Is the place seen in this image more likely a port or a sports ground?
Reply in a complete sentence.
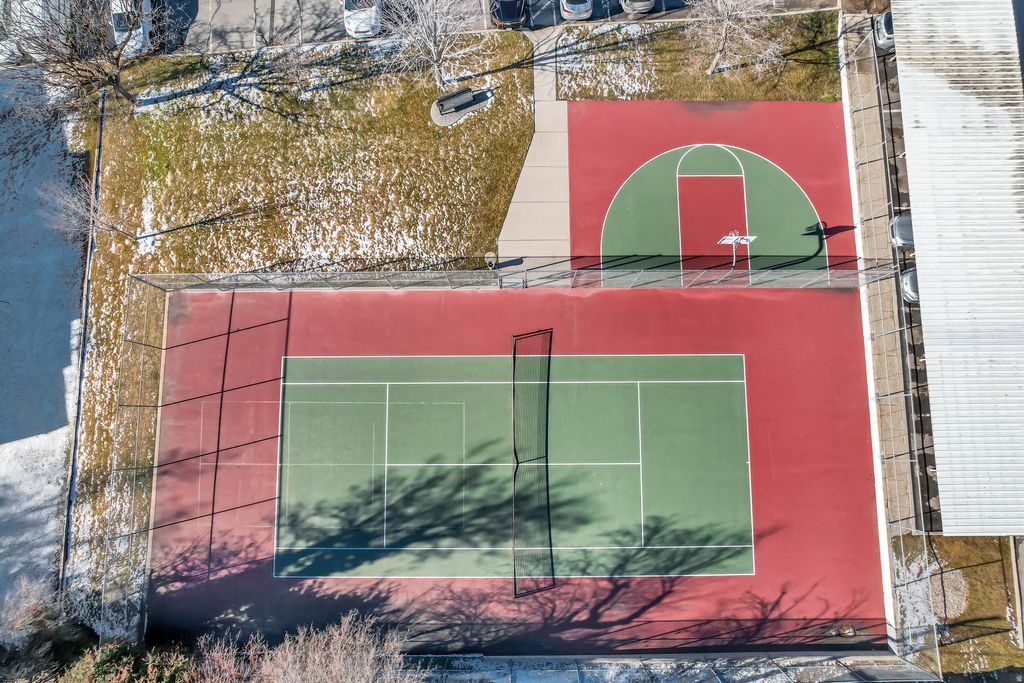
What you see here is a sports ground.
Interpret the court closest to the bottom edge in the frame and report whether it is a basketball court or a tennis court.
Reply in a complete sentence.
I'd say the court closest to the bottom edge is a tennis court.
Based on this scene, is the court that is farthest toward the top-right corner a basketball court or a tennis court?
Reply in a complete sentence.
In the photo, the court that is farthest toward the top-right corner shows up as a basketball court.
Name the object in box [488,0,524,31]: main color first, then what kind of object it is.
black car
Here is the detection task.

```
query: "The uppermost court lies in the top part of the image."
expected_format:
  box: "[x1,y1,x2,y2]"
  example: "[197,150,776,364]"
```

[568,99,858,286]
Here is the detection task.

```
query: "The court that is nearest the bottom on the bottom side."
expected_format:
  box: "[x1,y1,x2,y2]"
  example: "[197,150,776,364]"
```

[146,285,889,652]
